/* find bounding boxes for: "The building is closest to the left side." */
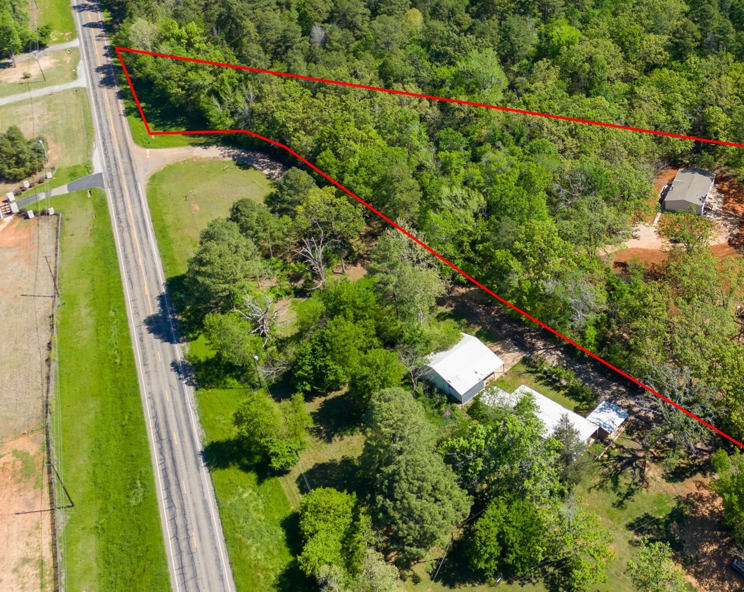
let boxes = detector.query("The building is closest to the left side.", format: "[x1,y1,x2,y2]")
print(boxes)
[420,330,504,404]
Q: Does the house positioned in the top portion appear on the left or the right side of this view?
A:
right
